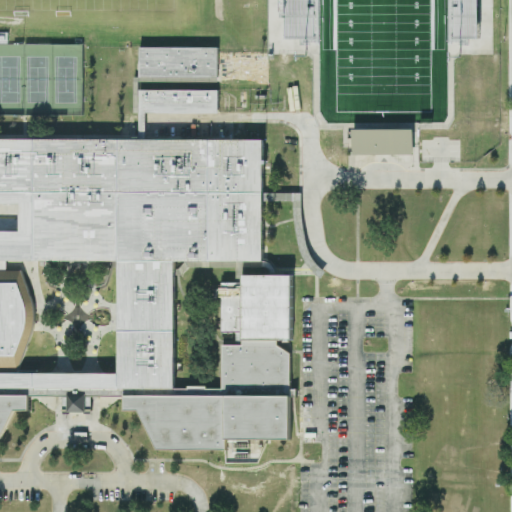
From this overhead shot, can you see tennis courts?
Yes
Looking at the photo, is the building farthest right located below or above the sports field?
below it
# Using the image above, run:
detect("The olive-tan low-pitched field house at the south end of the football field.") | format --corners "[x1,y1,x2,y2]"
[348,128,414,154]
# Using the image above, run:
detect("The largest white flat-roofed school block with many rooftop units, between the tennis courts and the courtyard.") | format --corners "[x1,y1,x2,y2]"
[0,138,264,389]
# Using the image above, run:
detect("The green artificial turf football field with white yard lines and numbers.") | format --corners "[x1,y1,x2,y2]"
[320,0,448,122]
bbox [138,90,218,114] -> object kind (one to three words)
building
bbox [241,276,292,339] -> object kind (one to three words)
building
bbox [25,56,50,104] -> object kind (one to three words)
tennis court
